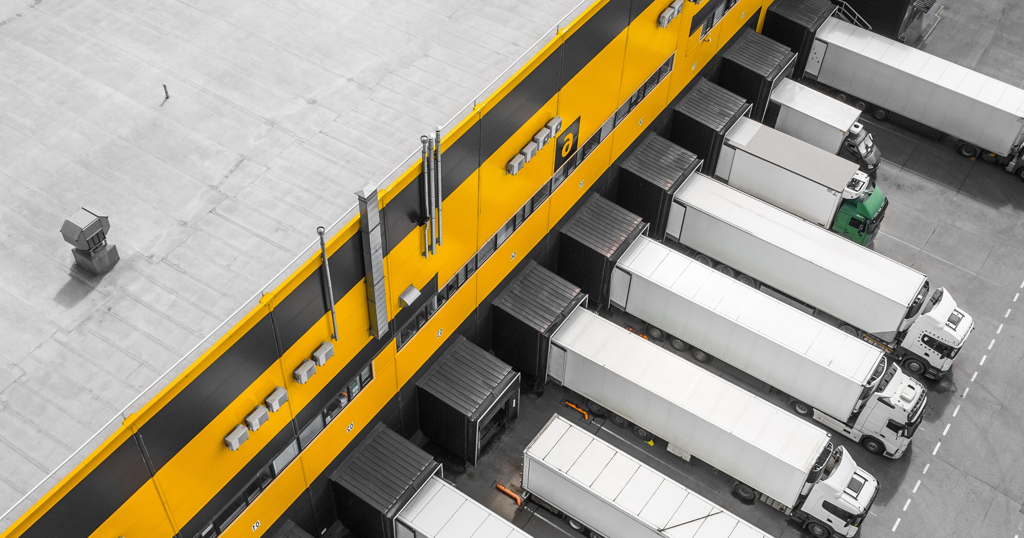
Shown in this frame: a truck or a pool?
truck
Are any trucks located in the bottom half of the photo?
Yes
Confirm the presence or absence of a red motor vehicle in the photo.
No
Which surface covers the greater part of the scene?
buildings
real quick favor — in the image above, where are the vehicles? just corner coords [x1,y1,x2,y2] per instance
[667,172,972,377]
[612,235,931,458]
[797,17,1024,177]
[399,474,538,538]
[550,305,881,538]
[763,76,884,177]
[522,413,780,538]
[719,116,889,248]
